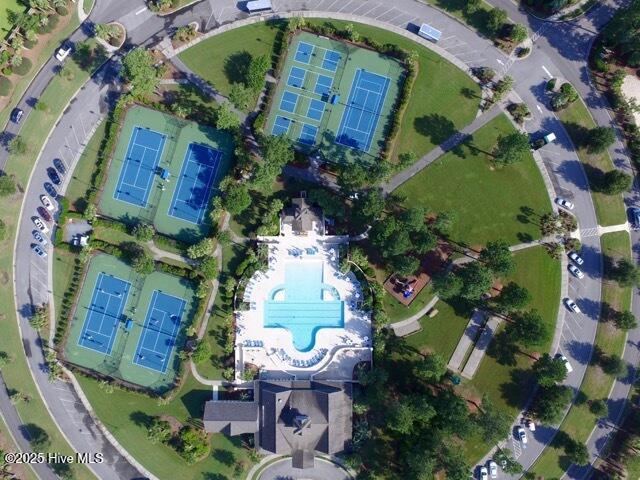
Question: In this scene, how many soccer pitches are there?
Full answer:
There are no soccer pitches in this view.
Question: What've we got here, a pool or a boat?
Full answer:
It is a pool that can be seen here.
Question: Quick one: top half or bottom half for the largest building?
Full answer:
The bottom half of the photo is where the largest building is.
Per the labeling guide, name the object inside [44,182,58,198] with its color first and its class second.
blue vehicle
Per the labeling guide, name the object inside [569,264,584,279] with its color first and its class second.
white car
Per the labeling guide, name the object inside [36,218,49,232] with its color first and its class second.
white vehicle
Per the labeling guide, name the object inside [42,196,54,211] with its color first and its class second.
white vehicle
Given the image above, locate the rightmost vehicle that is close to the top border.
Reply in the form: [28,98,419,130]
[418,23,440,43]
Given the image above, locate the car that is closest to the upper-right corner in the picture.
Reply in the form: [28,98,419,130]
[536,133,554,146]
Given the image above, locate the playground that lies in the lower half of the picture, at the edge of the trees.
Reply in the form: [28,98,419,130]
[384,269,431,307]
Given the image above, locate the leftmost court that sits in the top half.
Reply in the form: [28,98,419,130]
[98,104,176,226]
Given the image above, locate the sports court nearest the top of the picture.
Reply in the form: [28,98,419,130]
[286,31,351,78]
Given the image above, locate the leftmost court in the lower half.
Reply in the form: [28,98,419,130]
[62,251,142,375]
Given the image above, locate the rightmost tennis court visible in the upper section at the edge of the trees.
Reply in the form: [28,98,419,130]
[321,45,406,162]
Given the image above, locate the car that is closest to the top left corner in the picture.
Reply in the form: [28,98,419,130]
[56,46,72,62]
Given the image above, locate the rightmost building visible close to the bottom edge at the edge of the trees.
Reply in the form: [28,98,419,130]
[254,377,352,471]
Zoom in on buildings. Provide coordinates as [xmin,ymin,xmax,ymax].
[254,377,352,471]
[284,193,321,232]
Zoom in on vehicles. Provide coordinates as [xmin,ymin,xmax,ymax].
[569,252,584,266]
[518,428,527,444]
[557,198,572,209]
[489,461,497,477]
[536,133,554,146]
[39,207,51,222]
[566,299,579,313]
[527,418,536,433]
[49,168,61,184]
[42,196,54,211]
[55,159,66,174]
[479,466,488,480]
[36,218,49,232]
[44,182,58,198]
[56,46,72,62]
[632,209,640,224]
[558,354,571,369]
[14,107,25,122]
[569,264,584,279]
[247,0,272,12]
[418,23,440,43]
